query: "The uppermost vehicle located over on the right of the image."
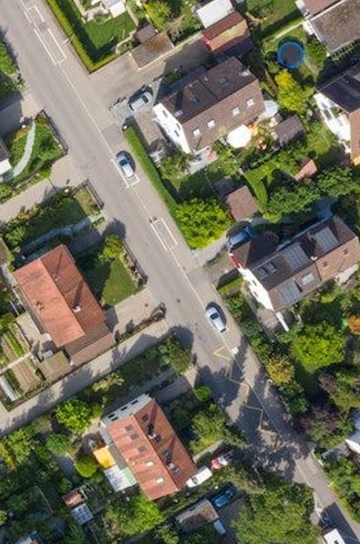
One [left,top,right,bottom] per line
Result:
[225,226,253,249]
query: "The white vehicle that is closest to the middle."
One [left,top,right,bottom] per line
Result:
[203,303,226,333]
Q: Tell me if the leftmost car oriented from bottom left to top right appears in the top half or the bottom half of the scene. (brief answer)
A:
top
